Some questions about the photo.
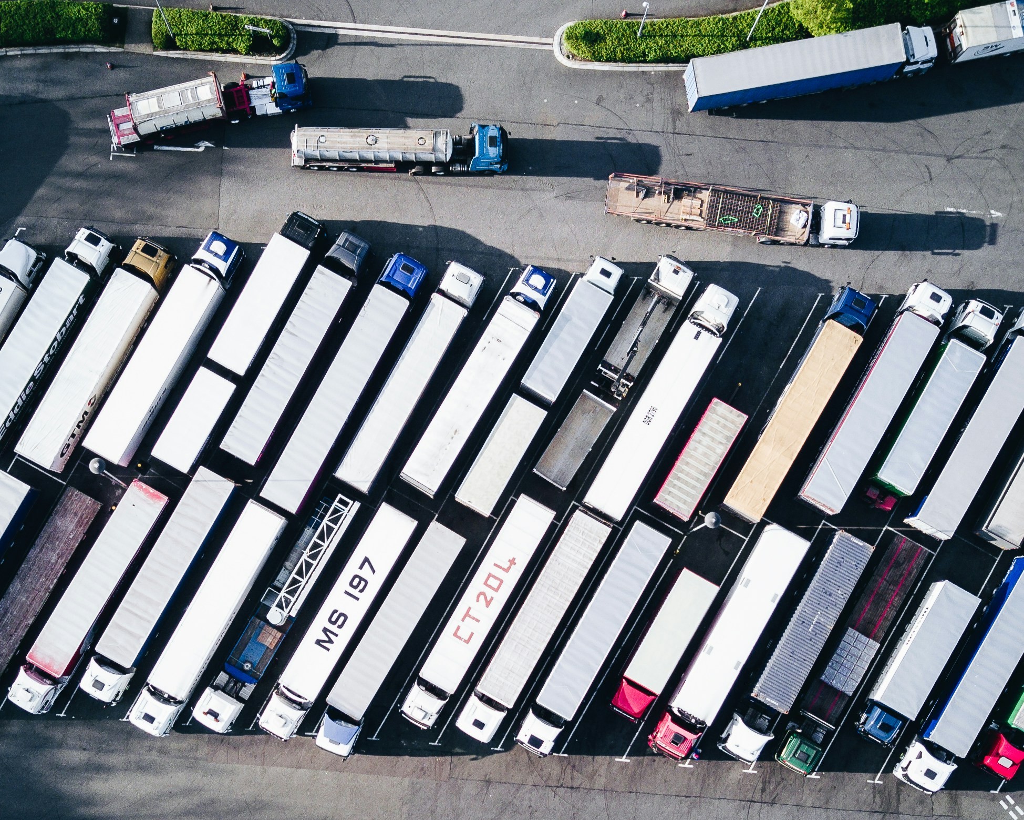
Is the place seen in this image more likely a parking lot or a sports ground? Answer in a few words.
parking lot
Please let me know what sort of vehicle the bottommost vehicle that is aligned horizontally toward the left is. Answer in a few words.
truck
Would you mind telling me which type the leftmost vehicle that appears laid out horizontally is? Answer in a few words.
truck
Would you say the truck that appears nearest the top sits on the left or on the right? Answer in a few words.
right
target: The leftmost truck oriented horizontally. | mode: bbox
[109,61,315,151]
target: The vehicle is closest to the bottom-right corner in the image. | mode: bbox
[964,673,1024,788]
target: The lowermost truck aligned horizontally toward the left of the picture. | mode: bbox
[292,121,513,174]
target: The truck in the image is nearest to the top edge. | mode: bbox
[944,1,1024,64]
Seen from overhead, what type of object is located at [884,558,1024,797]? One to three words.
truck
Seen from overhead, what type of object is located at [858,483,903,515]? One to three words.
work vehicle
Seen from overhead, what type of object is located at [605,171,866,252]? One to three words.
truck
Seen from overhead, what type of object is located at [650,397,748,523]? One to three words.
trailer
